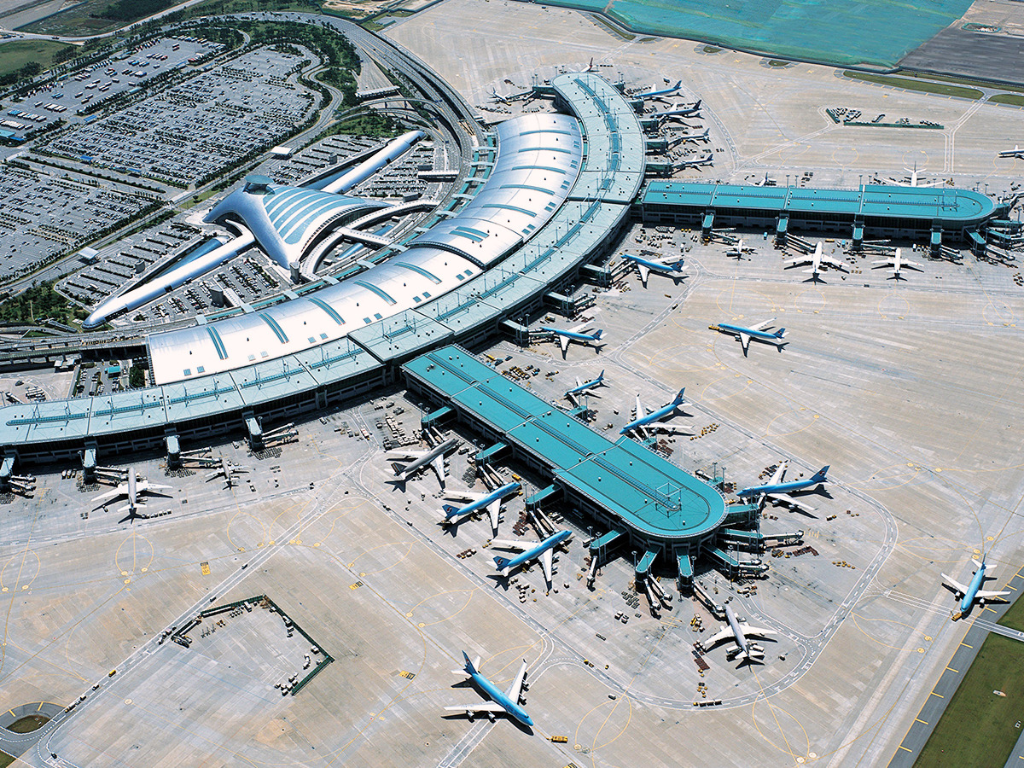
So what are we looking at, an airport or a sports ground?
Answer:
airport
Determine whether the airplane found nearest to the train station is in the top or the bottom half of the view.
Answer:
top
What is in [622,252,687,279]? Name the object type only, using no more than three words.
airplane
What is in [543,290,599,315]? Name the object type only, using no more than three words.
jet bridge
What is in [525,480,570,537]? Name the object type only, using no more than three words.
jet bridge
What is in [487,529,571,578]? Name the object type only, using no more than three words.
airplane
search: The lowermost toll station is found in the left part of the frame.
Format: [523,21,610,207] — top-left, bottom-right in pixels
[78,246,99,265]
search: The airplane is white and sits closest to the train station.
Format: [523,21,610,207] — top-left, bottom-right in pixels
[481,83,516,105]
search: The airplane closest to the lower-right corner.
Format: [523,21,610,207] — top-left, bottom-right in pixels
[942,554,1009,612]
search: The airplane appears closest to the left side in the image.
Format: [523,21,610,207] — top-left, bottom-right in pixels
[92,465,173,510]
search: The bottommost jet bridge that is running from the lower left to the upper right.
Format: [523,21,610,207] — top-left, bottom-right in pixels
[584,523,635,586]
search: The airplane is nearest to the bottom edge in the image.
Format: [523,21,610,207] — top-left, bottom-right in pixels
[444,653,535,726]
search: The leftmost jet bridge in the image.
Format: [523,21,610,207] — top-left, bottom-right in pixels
[0,453,40,495]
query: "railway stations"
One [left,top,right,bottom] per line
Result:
[93,132,459,329]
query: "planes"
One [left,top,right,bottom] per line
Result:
[942,554,1009,612]
[544,318,607,349]
[487,529,571,578]
[704,605,776,657]
[634,80,685,100]
[747,169,779,185]
[444,653,535,726]
[872,248,924,272]
[677,129,706,144]
[437,482,519,526]
[884,167,944,187]
[92,465,173,510]
[564,372,606,396]
[622,252,687,279]
[385,437,459,479]
[718,316,788,347]
[722,242,757,257]
[619,388,693,434]
[652,99,705,121]
[785,243,850,271]
[204,458,248,483]
[737,458,831,508]
[481,83,516,105]
[678,153,711,168]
